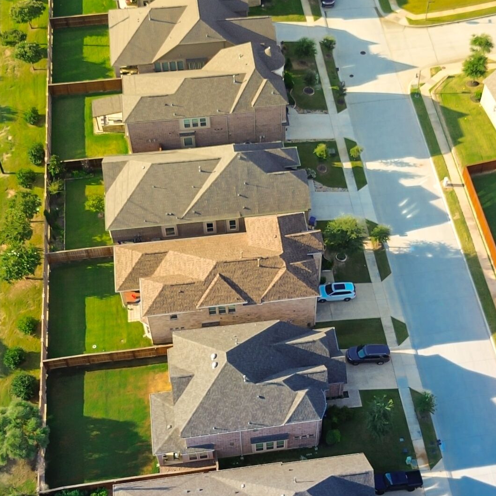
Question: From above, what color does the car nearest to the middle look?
blue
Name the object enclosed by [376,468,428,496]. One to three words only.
truck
